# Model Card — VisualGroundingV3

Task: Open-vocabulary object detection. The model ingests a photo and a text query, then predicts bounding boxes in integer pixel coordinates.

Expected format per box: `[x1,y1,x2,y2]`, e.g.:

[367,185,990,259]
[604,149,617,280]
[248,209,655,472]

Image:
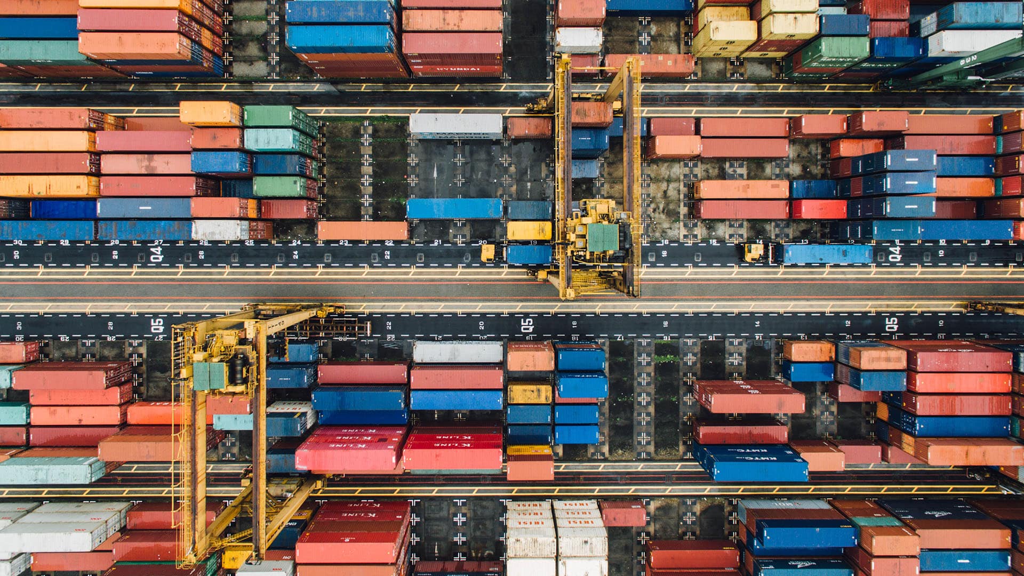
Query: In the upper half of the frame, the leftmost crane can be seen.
[524,54,646,303]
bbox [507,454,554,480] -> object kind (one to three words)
shipping container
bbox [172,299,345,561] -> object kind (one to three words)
container crane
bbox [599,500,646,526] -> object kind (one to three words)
shipping container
